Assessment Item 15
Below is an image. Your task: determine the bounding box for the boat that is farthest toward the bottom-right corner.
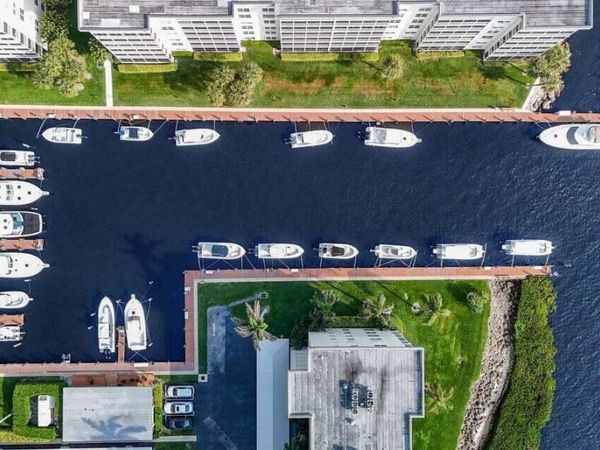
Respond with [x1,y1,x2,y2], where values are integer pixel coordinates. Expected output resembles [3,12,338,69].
[496,240,555,255]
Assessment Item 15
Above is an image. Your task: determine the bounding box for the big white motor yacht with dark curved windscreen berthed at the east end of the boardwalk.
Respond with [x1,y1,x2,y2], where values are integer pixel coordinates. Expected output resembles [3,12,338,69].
[538,123,600,151]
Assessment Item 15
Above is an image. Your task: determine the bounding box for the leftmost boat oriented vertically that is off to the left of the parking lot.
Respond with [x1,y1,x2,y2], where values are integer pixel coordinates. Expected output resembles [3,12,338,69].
[98,296,115,361]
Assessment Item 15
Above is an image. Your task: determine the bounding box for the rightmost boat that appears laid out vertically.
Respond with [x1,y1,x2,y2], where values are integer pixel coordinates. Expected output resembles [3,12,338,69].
[123,294,147,353]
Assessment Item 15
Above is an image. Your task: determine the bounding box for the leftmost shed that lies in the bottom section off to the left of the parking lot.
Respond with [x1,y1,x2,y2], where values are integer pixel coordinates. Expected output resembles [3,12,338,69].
[38,395,56,427]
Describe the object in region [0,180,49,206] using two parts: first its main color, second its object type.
white boat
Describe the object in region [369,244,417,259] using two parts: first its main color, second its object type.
white boat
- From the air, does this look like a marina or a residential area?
marina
